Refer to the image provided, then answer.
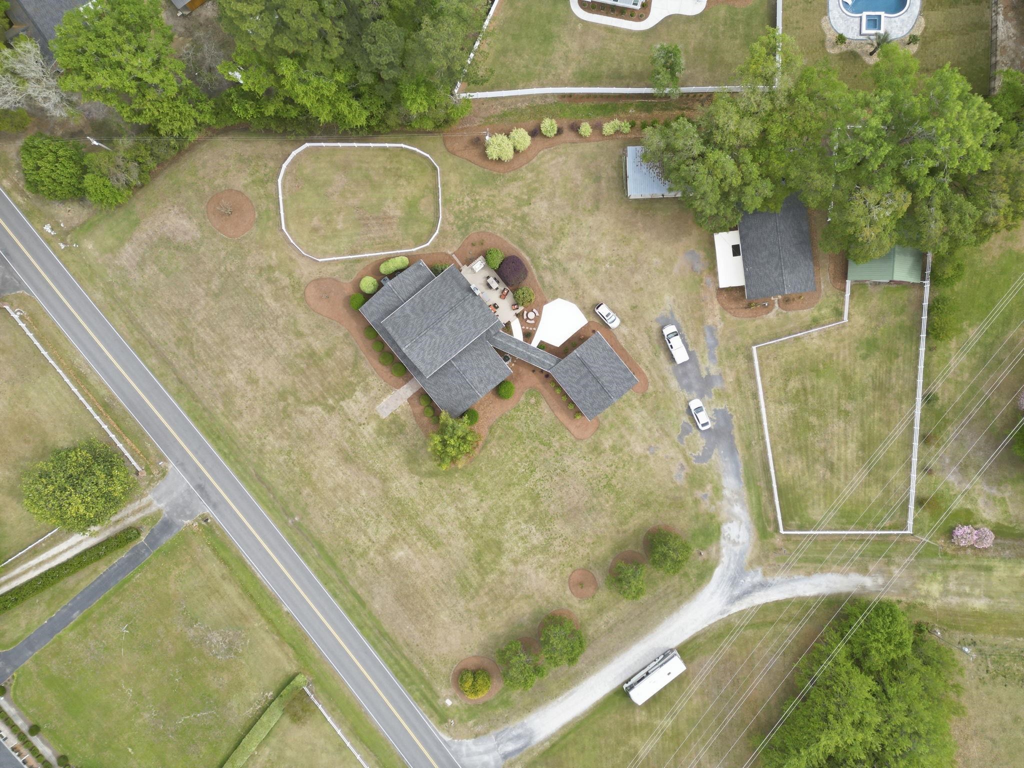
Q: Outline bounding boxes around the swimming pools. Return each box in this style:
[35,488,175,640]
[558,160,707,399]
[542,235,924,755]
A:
[840,0,911,34]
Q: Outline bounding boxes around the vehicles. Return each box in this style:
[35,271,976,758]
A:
[625,647,686,704]
[662,324,692,366]
[594,299,619,330]
[691,398,712,432]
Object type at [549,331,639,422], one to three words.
building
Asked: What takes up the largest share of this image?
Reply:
grass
